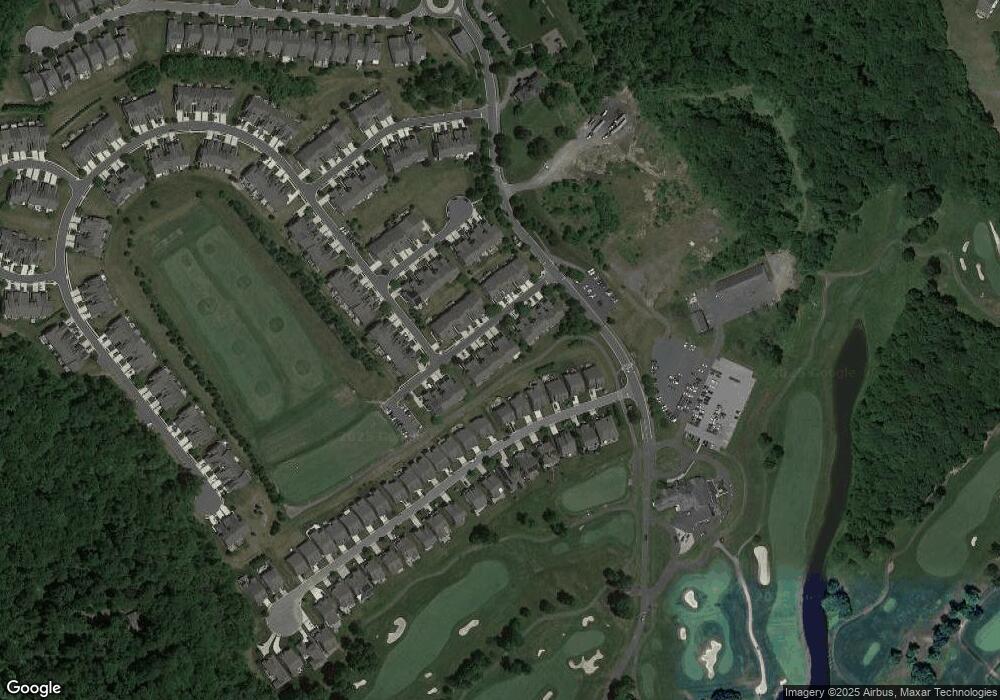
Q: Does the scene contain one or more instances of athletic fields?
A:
Yes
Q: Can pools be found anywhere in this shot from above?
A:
No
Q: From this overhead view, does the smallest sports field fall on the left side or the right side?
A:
left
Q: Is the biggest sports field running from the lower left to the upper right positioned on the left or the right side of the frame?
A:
left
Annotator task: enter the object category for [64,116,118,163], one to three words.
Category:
house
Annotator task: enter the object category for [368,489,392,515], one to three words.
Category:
house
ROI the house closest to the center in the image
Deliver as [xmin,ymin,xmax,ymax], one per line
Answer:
[462,332,520,386]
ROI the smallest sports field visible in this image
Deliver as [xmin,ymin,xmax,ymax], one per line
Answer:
[258,397,376,465]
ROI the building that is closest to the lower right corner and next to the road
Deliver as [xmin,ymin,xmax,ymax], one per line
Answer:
[653,476,713,527]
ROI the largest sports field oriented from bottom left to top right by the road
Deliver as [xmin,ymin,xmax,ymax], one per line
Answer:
[271,409,402,505]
